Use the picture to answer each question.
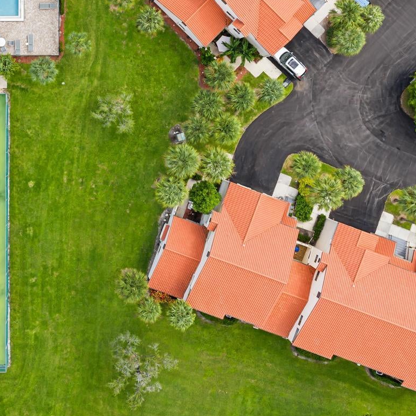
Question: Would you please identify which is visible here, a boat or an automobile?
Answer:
automobile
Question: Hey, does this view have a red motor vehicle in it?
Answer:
No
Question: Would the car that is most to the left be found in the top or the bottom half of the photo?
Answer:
top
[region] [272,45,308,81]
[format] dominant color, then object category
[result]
white car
